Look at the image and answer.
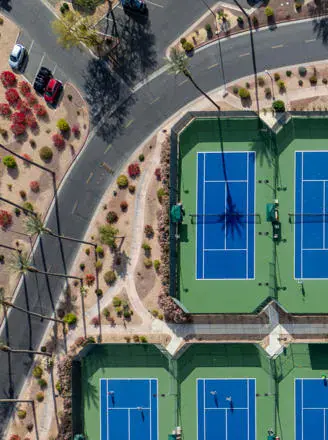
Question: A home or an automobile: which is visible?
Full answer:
Visible in the photo is an automobile.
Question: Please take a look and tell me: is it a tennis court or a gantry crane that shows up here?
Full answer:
I can see a tennis court in this picture.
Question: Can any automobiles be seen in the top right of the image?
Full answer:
No, the scene shows no automobile in the top right of the image.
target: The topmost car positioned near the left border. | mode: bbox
[6,44,25,69]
